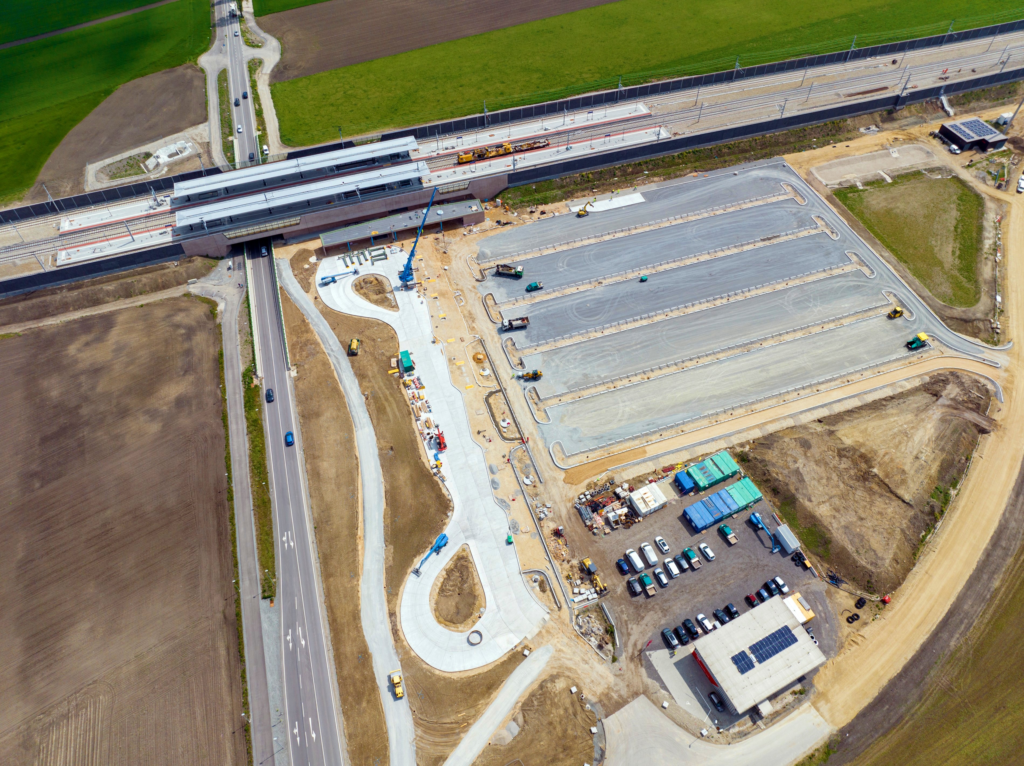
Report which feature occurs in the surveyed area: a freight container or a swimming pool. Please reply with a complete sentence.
Looking from above, you can make out a freight container.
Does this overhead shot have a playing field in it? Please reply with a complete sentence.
Yes, the image includes a playing field.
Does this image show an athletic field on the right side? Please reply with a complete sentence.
No, I see no athletic field on the right side.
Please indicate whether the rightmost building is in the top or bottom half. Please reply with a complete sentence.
It is in the top half that the rightmost building appears.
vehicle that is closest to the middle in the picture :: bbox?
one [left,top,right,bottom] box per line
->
[520,369,540,381]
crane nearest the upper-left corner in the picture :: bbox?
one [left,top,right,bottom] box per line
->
[395,186,443,292]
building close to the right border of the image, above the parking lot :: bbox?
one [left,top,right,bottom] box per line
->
[939,117,1008,150]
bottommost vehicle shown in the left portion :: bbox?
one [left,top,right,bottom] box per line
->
[388,665,406,700]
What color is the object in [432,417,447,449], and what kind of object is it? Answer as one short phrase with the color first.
red work vehicle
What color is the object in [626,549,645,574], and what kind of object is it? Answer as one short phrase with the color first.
white vehicle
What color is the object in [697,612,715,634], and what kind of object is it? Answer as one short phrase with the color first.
white car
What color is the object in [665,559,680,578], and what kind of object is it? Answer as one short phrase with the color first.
white car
